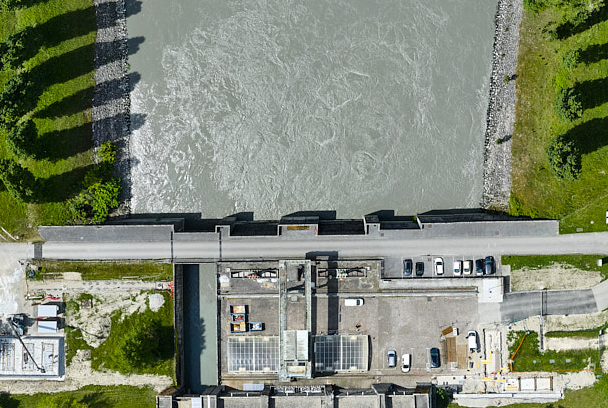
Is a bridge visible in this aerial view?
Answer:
Yes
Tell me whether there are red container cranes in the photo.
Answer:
No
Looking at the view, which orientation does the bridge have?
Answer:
from side to side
